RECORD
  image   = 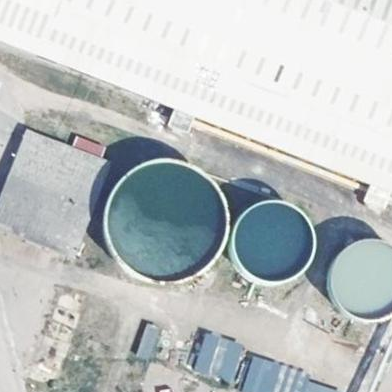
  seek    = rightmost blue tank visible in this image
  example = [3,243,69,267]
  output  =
[228,200,316,285]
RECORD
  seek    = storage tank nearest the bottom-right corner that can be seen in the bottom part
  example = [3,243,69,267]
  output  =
[323,238,392,322]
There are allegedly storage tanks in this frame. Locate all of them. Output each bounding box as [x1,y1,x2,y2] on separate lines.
[101,158,230,286]
[323,238,392,322]
[228,200,316,285]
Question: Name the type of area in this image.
industrial area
